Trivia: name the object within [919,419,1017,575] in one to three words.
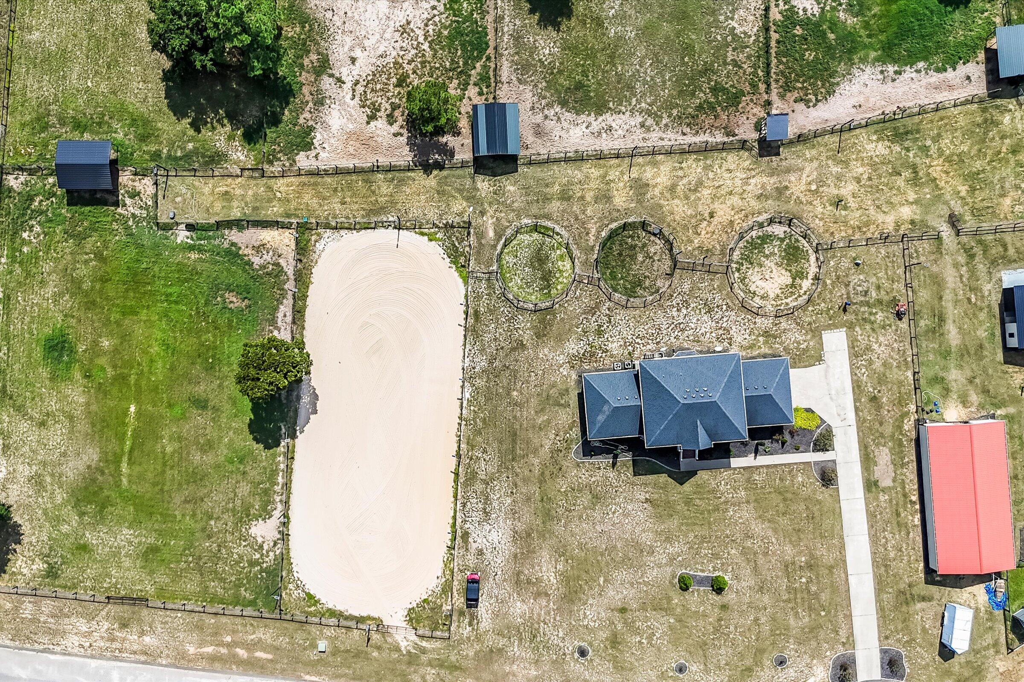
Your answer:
barn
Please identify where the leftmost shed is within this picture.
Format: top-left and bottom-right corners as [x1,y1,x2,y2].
[55,140,119,190]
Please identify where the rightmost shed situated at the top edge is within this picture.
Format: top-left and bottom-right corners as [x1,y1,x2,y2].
[985,24,1024,82]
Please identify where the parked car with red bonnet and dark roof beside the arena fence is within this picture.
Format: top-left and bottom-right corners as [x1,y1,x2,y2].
[465,573,481,610]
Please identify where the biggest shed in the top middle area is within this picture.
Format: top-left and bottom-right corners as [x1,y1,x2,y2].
[472,102,520,157]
